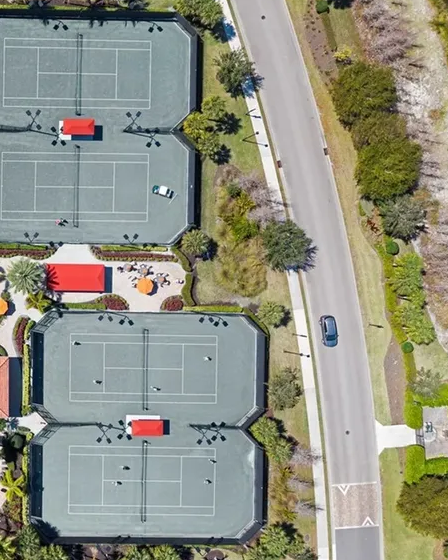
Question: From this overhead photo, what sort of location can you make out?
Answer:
sports ground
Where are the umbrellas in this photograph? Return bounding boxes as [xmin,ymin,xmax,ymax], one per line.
[0,298,8,314]
[137,277,154,294]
